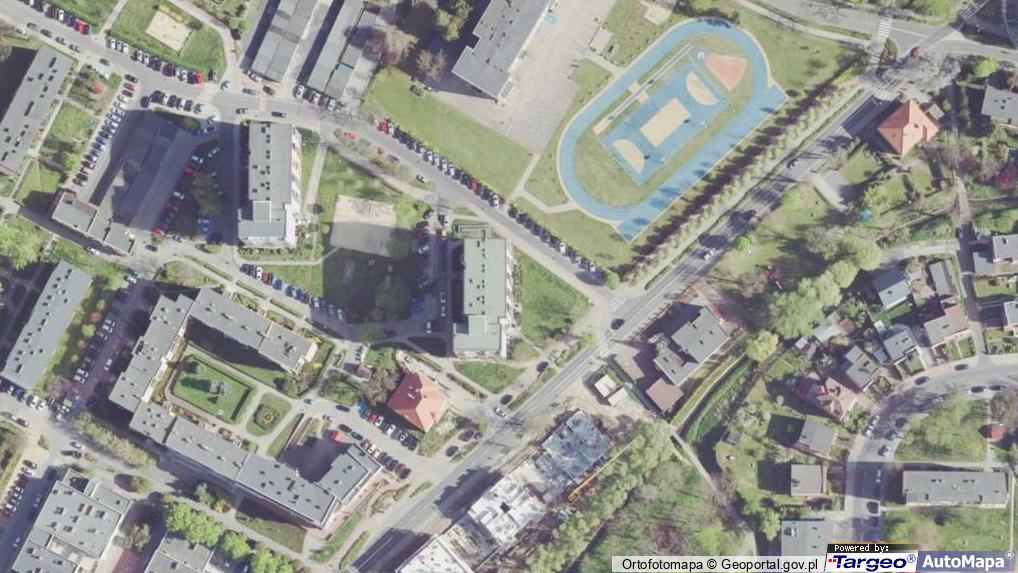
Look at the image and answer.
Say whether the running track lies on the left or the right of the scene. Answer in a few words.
right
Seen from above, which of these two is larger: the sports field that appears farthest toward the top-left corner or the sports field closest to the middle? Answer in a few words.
the sports field closest to the middle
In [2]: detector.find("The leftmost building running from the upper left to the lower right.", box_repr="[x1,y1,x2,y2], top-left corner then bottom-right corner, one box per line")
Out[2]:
[52,193,136,257]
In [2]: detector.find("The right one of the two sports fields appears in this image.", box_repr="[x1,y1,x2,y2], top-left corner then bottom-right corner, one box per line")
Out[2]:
[330,196,394,257]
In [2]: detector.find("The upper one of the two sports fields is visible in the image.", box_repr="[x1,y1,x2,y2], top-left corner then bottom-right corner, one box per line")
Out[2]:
[146,10,192,52]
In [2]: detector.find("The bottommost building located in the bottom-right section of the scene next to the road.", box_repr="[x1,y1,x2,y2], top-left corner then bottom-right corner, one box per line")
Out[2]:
[779,517,832,573]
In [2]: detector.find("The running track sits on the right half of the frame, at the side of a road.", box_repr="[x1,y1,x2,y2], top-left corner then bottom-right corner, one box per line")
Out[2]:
[557,14,787,242]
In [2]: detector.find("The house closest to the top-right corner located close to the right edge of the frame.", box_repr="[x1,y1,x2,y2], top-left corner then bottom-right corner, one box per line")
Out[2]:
[980,84,1018,126]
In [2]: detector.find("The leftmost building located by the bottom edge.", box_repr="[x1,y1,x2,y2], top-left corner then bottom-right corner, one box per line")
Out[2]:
[10,468,134,573]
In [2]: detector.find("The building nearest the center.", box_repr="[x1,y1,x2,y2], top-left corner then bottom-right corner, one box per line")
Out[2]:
[452,238,516,359]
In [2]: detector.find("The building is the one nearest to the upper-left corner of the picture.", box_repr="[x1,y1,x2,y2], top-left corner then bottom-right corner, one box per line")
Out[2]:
[0,45,82,175]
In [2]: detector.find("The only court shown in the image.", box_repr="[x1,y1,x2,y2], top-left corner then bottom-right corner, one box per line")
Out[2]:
[597,61,733,188]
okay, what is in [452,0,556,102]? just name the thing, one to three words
building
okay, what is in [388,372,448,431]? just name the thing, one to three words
house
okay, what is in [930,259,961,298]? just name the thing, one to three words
house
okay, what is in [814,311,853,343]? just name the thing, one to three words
shed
